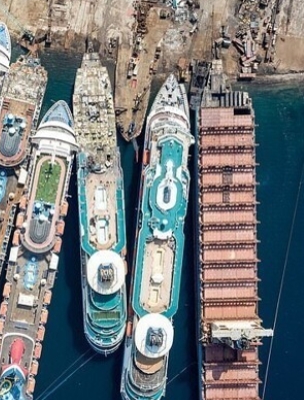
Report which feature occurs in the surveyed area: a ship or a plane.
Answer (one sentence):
Looking from above, you can make out a ship.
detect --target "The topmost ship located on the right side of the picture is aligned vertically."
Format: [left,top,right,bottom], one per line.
[188,60,210,108]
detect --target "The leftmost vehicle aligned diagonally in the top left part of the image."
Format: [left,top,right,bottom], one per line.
[23,36,41,58]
